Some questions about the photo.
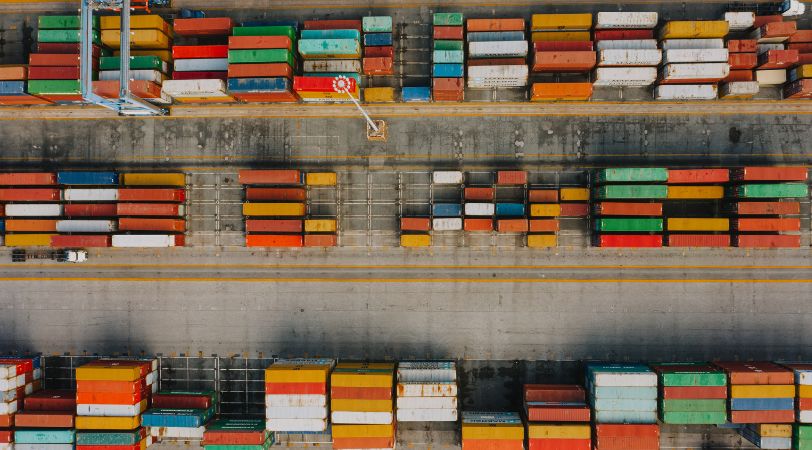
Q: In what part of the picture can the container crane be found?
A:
top left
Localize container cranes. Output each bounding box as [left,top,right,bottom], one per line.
[81,0,168,113]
